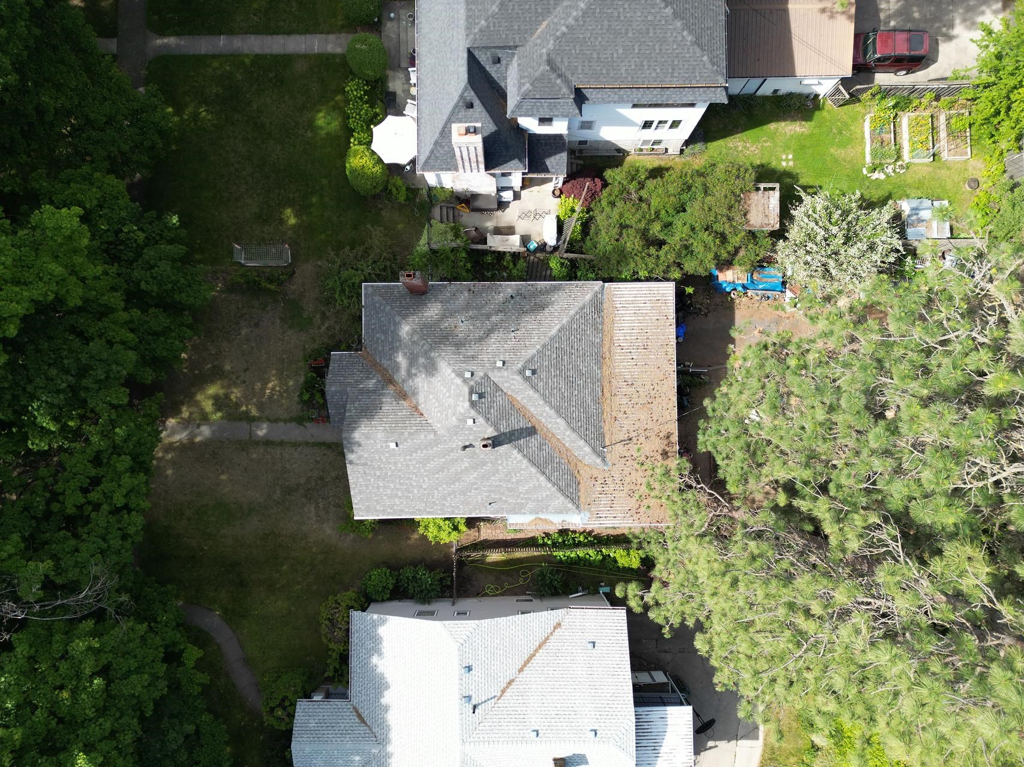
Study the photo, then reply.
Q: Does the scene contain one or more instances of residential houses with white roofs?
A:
Yes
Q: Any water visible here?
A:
No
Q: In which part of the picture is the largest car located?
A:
top right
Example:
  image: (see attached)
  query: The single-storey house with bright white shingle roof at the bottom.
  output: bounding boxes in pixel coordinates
[291,592,696,767]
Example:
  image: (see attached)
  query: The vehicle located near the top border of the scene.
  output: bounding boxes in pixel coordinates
[853,29,929,74]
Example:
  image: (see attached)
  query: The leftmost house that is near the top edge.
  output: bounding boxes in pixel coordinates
[414,0,731,197]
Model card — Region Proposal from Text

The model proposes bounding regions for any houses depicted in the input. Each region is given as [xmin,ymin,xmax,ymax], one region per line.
[324,271,681,529]
[414,0,731,197]
[291,592,696,767]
